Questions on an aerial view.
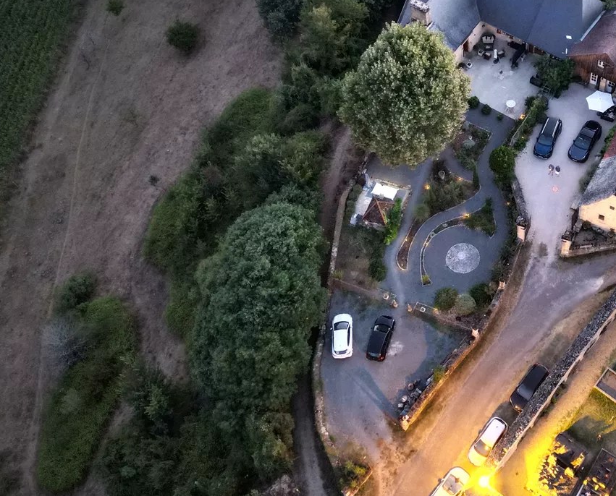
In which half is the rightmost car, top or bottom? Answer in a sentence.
You can find the rightmost car in the top half.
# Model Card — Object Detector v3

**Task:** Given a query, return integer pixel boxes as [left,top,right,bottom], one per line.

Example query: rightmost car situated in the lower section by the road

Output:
[503,358,548,413]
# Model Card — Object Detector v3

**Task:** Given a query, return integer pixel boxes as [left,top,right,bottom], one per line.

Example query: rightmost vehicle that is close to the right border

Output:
[571,121,601,163]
